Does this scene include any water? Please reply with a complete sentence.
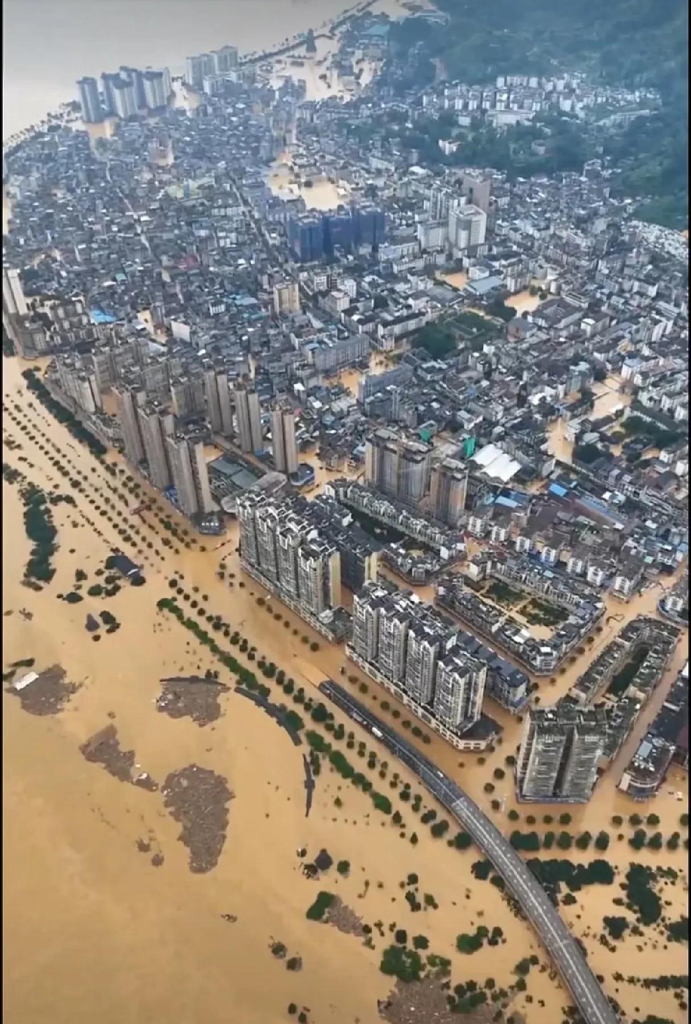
Yes, water can be seen from above here.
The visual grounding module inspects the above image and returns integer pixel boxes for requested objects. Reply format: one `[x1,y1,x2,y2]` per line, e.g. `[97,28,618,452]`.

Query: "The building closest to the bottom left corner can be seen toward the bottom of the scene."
[313,856,334,878]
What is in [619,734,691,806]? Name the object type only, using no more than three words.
building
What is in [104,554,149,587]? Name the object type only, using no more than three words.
building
